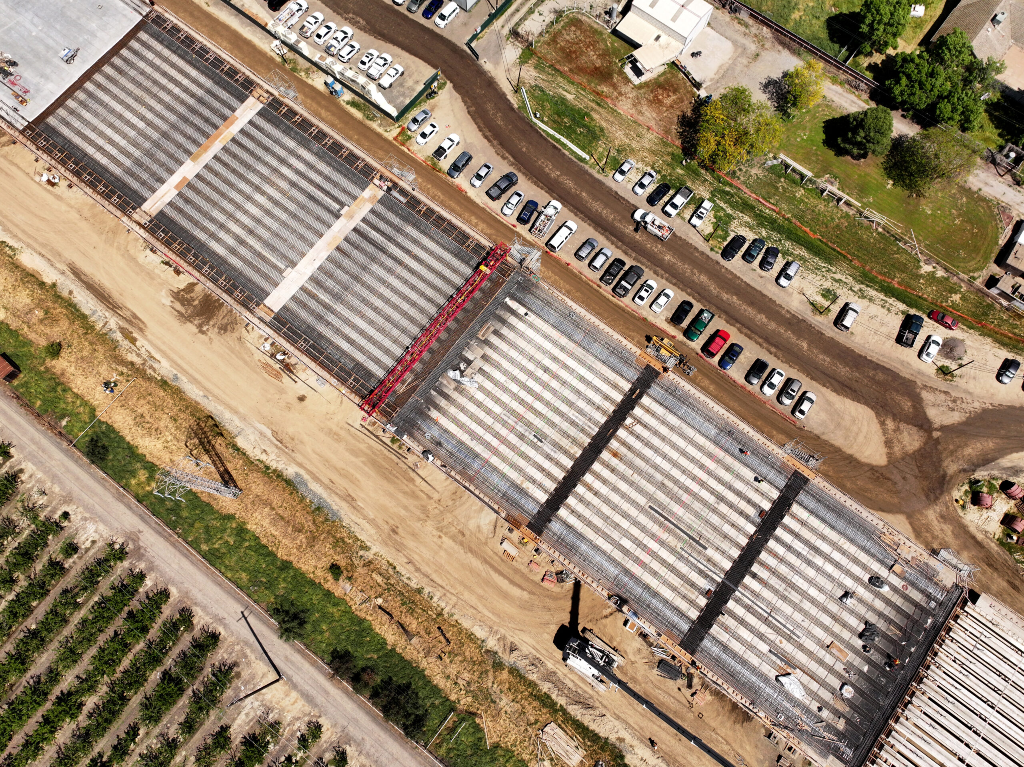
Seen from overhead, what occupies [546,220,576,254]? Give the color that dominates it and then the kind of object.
white truck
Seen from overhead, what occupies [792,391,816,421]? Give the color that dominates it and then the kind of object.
white car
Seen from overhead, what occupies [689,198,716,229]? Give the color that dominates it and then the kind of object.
white truck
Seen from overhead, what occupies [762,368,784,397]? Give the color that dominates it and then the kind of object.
white car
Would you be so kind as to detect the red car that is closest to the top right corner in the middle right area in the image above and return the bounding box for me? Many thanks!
[927,312,959,332]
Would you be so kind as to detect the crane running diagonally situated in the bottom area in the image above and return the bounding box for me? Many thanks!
[558,628,725,767]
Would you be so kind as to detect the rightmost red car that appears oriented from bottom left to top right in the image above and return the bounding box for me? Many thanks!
[703,329,729,360]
